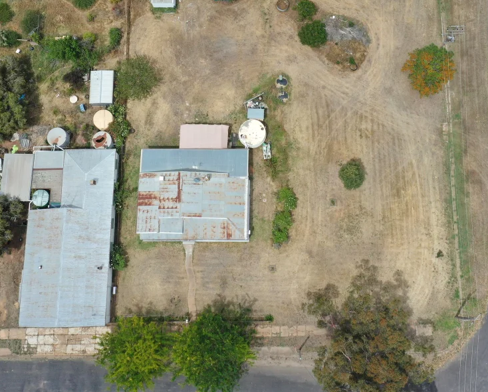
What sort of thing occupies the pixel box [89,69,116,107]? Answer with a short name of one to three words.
shed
